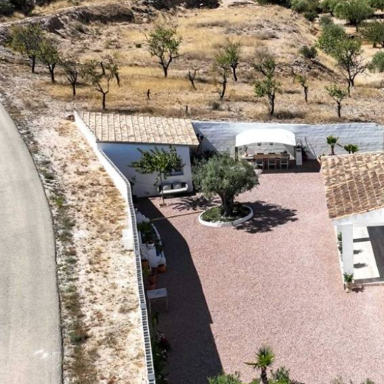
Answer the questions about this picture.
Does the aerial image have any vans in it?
No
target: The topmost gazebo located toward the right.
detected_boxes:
[235,131,300,171]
